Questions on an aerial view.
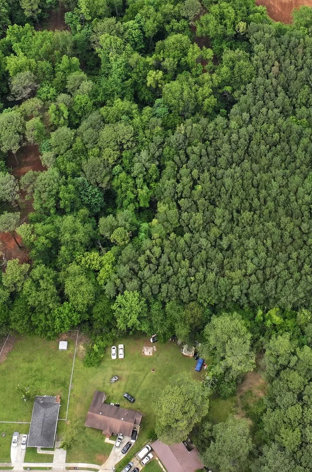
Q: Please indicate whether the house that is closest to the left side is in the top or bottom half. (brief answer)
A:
bottom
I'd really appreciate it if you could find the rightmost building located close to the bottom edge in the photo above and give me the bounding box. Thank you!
[152,433,203,472]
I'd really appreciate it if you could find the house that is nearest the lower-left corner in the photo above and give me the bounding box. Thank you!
[27,396,61,447]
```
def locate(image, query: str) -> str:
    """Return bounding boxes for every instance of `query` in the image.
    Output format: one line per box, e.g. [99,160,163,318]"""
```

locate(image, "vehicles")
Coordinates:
[11,430,20,449]
[118,344,125,359]
[195,357,204,372]
[114,434,123,450]
[122,460,134,472]
[20,433,28,450]
[138,443,152,460]
[140,450,156,469]
[129,425,139,446]
[120,440,132,456]
[122,392,136,404]
[112,345,117,359]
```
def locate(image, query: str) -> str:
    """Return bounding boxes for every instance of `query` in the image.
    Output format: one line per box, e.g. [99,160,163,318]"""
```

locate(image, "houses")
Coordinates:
[27,396,61,447]
[152,433,203,472]
[86,391,142,436]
